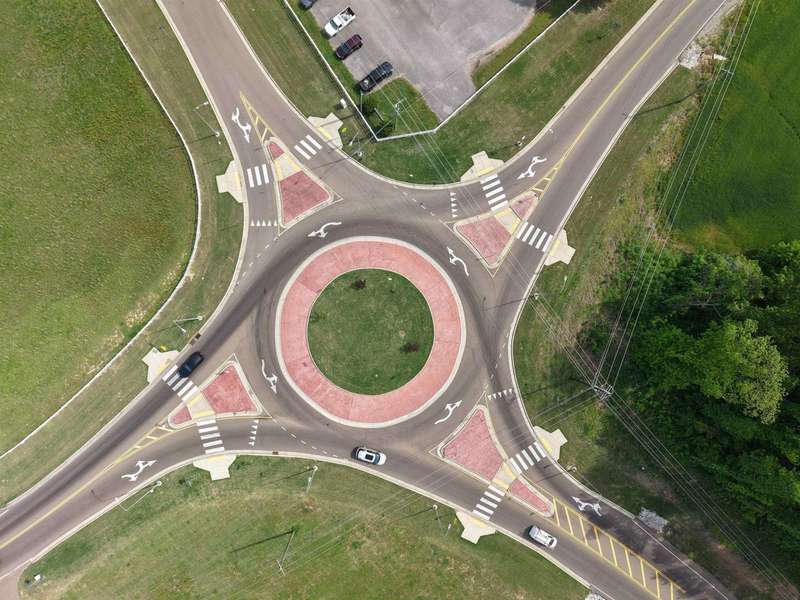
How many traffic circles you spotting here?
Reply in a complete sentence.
I count just 1 traffic circle.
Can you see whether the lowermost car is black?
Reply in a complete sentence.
No, the color of the lowermost car is white.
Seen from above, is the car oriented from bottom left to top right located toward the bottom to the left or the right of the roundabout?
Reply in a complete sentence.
It is on the left side of the roundabout that the car oriented from bottom left to top right located toward the bottom is positioned.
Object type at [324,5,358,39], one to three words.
truck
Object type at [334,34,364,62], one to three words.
car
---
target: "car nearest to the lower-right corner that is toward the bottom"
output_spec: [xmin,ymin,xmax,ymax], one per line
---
[525,523,558,549]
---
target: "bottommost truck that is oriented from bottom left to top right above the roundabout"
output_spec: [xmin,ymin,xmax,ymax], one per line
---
[357,62,395,94]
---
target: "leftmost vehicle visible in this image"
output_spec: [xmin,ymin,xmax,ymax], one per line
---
[173,349,205,378]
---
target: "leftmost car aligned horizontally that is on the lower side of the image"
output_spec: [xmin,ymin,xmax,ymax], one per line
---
[351,446,388,466]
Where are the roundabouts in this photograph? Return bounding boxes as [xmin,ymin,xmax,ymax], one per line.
[238,201,500,462]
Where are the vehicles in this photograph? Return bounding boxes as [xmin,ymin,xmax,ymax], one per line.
[297,0,323,13]
[357,62,395,94]
[525,523,558,549]
[324,5,358,39]
[351,446,388,466]
[173,349,205,378]
[334,34,364,62]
